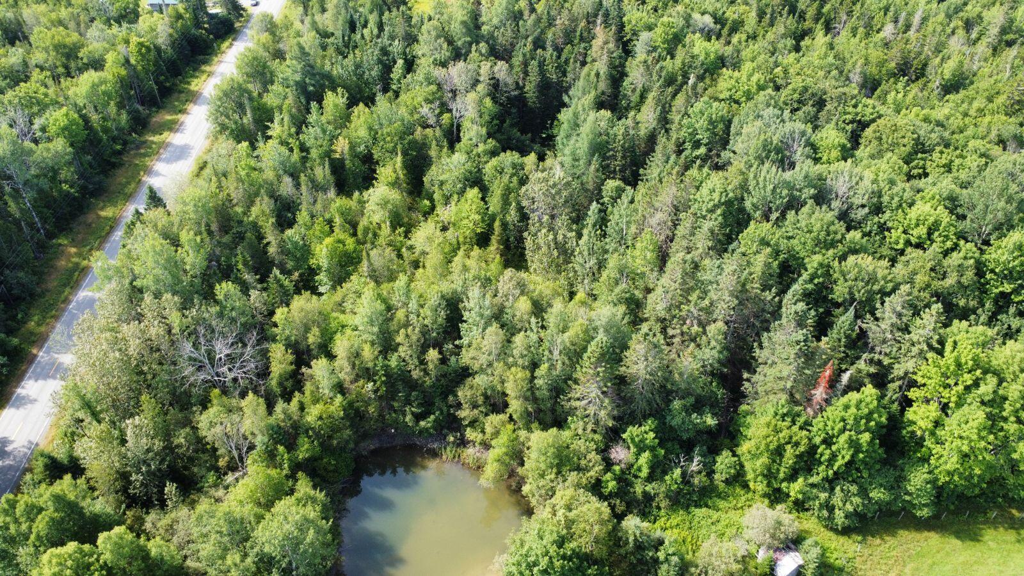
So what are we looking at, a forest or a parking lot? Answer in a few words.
forest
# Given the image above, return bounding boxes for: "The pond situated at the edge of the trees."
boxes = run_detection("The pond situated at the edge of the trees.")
[337,448,528,576]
